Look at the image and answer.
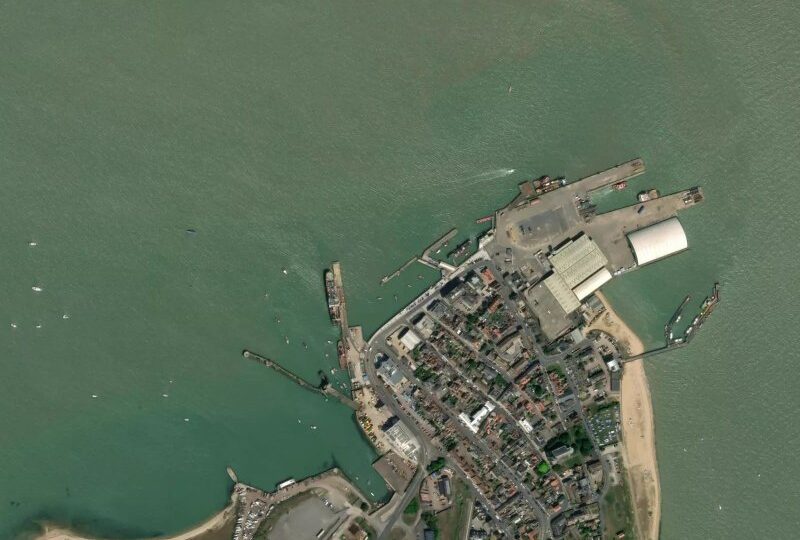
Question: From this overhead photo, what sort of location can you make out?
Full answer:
The picture captures a port.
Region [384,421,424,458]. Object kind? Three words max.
building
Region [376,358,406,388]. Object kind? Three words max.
building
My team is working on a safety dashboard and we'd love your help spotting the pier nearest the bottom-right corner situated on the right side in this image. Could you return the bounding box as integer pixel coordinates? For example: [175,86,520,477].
[620,284,720,365]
